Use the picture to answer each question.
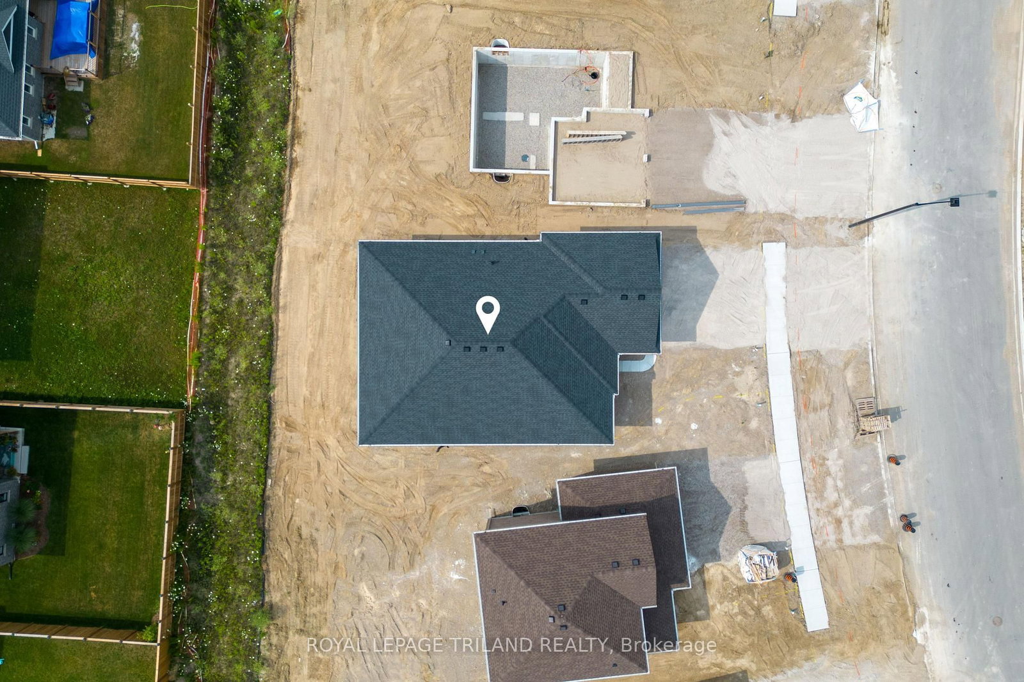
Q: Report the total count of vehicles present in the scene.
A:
0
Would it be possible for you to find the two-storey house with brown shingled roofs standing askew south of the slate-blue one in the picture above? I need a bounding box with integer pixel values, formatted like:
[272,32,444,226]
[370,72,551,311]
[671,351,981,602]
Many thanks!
[472,465,692,682]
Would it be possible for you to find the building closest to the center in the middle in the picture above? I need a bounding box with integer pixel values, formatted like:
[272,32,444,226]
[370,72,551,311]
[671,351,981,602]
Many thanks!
[357,230,663,452]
